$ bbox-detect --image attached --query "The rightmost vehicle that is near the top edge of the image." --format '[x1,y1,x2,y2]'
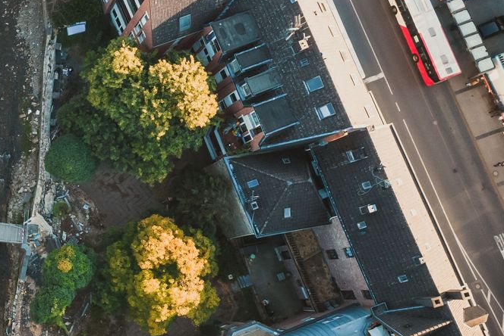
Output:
[474,15,504,39]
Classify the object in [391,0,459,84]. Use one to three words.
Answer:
bus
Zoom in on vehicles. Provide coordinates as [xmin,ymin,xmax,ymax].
[391,0,459,84]
[474,15,504,39]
